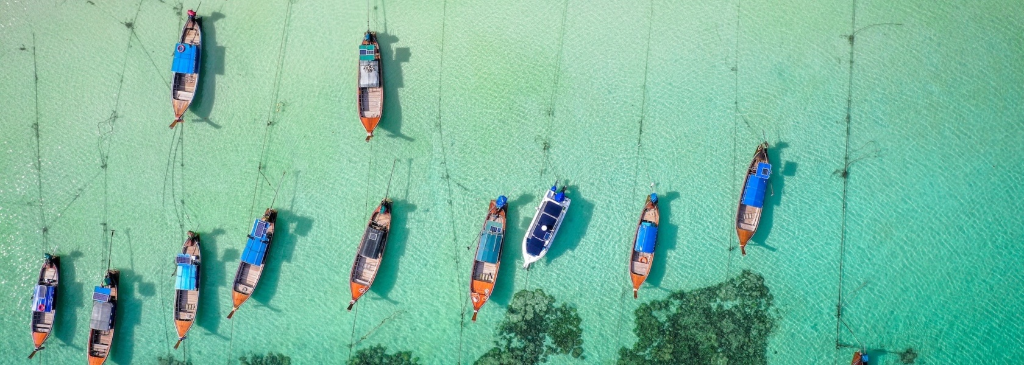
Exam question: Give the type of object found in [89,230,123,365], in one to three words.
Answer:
boat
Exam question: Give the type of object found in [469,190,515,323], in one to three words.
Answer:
boat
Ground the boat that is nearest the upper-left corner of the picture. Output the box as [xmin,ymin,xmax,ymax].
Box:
[168,1,206,129]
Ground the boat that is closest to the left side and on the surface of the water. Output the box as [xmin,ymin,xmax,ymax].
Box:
[27,246,65,359]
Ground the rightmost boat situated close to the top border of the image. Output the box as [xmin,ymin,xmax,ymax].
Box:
[356,0,383,142]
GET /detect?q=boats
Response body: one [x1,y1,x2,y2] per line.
[628,188,659,300]
[356,0,383,142]
[168,1,206,129]
[173,225,205,350]
[521,179,571,273]
[347,161,395,312]
[226,171,287,319]
[27,246,65,359]
[735,130,771,256]
[89,230,123,365]
[469,190,515,323]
